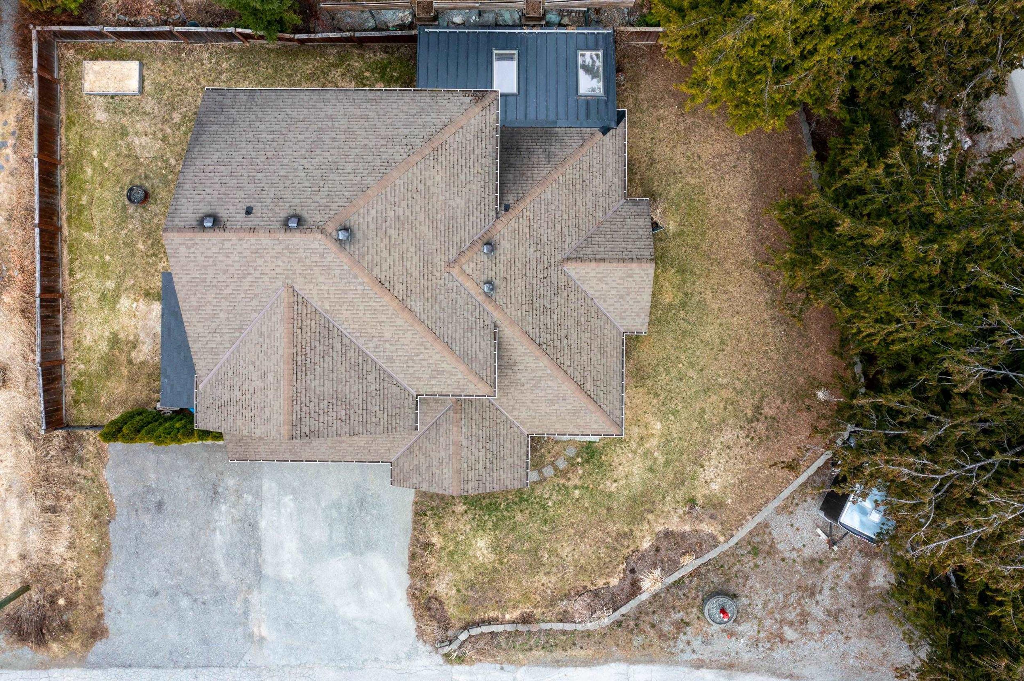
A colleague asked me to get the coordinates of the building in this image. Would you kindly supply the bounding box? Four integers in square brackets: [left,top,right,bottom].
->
[161,26,656,496]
